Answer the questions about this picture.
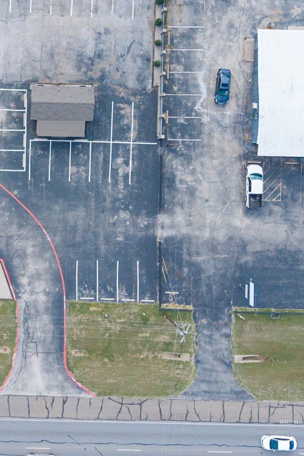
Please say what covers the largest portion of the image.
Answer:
paved ground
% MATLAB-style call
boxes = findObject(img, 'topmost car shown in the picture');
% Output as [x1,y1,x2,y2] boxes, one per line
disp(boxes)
[215,68,232,105]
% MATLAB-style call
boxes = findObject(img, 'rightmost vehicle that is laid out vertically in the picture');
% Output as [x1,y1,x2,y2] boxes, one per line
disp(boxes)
[246,164,265,209]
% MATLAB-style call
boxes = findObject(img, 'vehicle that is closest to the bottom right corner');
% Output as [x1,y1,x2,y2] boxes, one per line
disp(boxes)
[261,434,298,453]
